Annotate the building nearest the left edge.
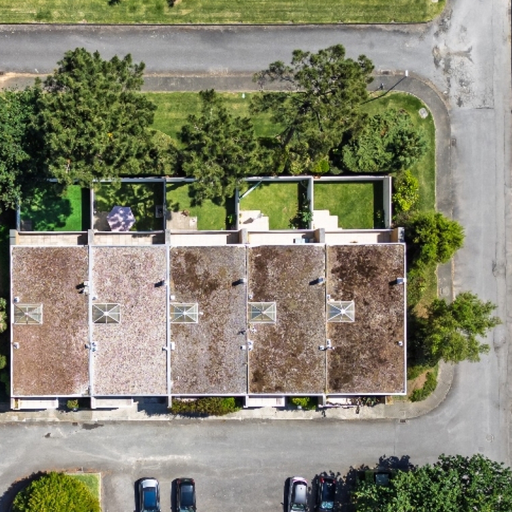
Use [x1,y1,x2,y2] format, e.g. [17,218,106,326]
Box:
[10,231,90,409]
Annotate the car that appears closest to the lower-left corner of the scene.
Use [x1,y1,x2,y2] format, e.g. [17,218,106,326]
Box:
[138,477,162,512]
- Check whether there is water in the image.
No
